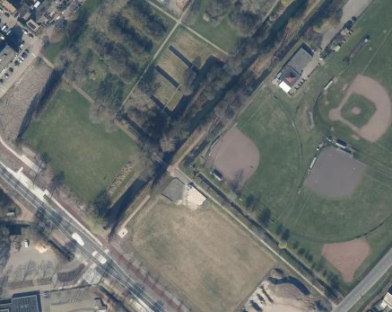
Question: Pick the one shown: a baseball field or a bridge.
baseball field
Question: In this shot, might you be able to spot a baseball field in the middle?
Yes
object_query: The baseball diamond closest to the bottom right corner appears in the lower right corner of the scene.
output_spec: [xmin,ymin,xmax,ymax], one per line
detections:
[321,238,368,282]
